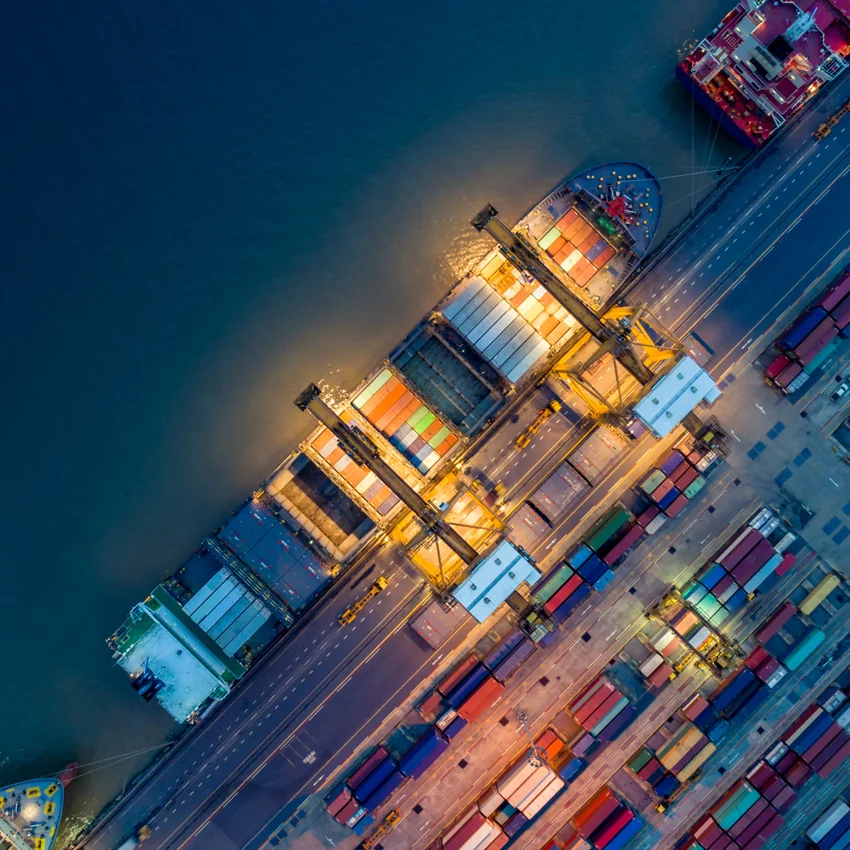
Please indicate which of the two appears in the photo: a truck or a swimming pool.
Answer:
truck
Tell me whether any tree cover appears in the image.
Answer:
No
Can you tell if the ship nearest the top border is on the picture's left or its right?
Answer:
right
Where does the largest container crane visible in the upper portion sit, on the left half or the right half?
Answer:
right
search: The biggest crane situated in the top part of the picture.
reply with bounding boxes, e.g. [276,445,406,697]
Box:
[471,204,721,445]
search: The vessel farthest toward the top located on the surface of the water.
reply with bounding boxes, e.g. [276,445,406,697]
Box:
[679,0,850,146]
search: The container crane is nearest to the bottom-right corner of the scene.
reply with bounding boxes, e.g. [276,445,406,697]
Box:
[642,584,748,685]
